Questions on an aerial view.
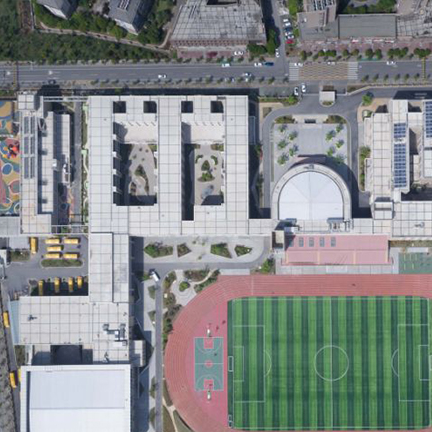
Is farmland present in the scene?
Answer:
No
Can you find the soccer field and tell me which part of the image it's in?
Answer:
bottom right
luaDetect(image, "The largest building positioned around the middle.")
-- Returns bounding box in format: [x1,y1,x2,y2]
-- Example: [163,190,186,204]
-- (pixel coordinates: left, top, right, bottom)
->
[87,95,276,303]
